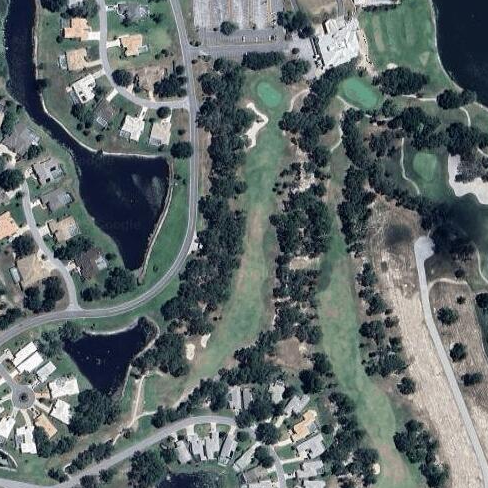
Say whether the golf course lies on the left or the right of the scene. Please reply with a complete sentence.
You can find the golf course on the right side of the picture.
